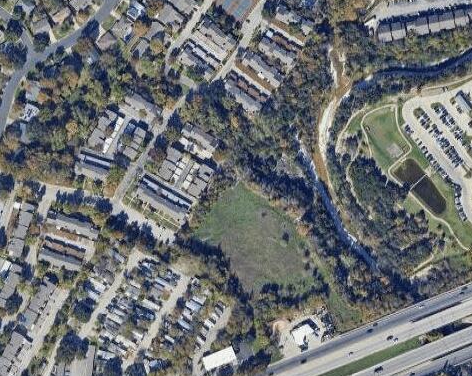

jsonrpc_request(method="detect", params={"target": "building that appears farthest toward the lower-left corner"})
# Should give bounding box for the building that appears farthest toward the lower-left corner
[0,332,34,376]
